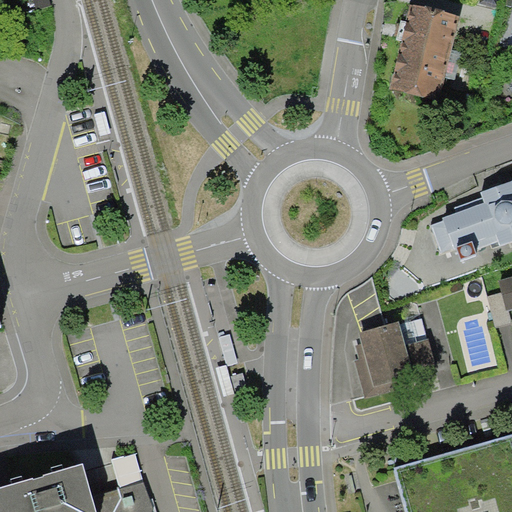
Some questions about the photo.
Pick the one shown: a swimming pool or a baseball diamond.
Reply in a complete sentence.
Visible in the photo is a swimming pool.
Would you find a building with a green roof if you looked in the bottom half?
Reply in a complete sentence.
Yes, a building with a green roof appears in the bottom half.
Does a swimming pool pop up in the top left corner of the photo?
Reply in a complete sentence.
No, there is no swimming pool in the top left corner of the photo.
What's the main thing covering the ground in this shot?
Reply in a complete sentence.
The bulk of the photo consists of paved ground.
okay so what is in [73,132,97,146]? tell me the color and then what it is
white car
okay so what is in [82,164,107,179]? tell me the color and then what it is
white car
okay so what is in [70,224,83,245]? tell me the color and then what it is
white vehicle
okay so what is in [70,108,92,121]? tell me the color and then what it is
white vehicle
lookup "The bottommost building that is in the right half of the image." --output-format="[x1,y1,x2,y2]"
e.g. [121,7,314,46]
[394,436,512,512]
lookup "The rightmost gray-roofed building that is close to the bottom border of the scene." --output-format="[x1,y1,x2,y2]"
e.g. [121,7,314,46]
[112,480,156,512]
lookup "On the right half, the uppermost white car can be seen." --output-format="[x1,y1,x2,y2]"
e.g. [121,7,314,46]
[366,218,381,242]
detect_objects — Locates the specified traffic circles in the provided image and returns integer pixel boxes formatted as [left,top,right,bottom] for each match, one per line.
[238,136,392,290]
